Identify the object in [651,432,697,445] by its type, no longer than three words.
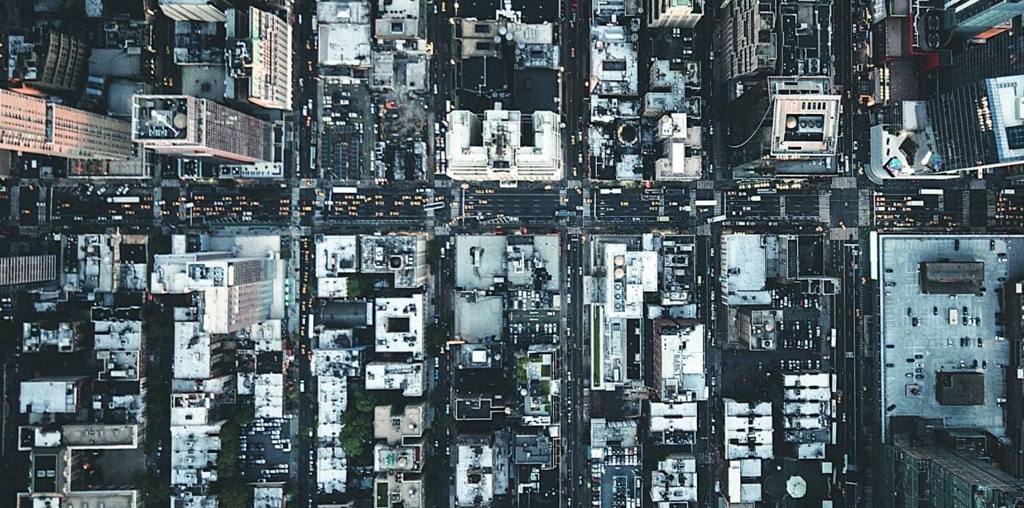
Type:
building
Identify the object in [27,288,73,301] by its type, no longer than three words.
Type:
building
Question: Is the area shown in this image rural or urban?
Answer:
urban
